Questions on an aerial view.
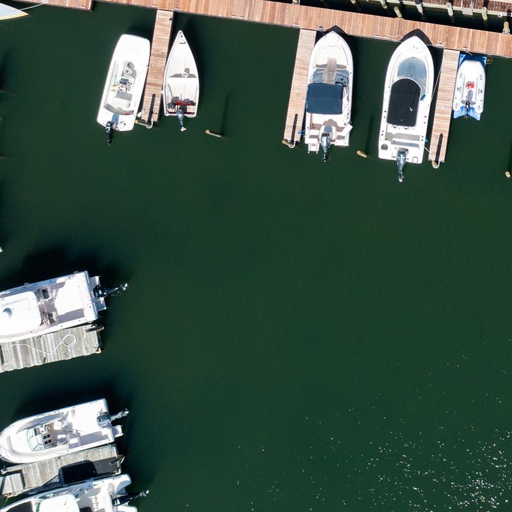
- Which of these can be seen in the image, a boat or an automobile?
boat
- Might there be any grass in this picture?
No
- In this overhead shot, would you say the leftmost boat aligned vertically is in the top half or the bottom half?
top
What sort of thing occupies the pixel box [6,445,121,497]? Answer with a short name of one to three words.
pier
